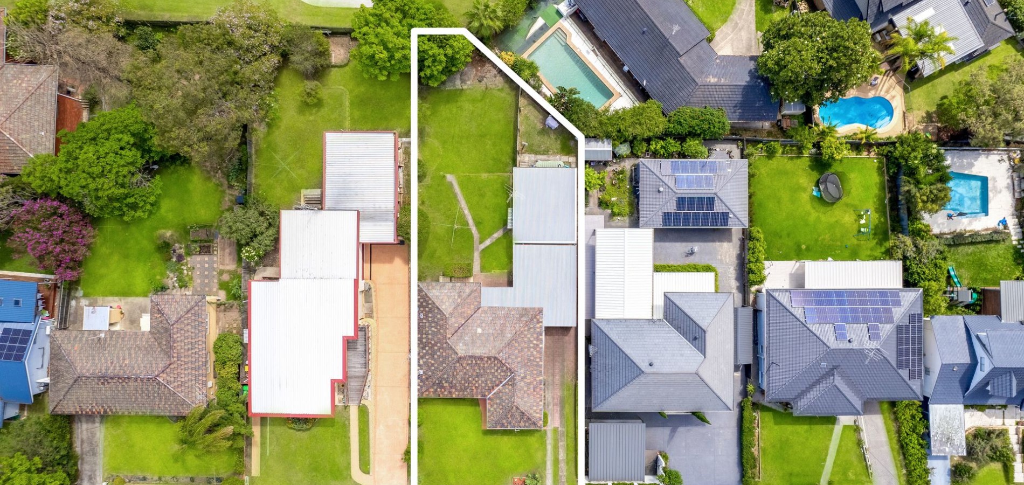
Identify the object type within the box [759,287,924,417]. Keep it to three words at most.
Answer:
house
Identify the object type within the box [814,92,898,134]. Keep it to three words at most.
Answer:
swimming pool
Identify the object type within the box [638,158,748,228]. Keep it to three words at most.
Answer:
building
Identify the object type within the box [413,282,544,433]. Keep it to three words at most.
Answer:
house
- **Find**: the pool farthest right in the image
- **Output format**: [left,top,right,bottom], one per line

[942,171,989,217]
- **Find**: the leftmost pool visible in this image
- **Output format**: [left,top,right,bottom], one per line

[524,23,621,125]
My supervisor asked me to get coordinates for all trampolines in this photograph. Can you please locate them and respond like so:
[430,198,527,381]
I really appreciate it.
[819,173,852,203]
